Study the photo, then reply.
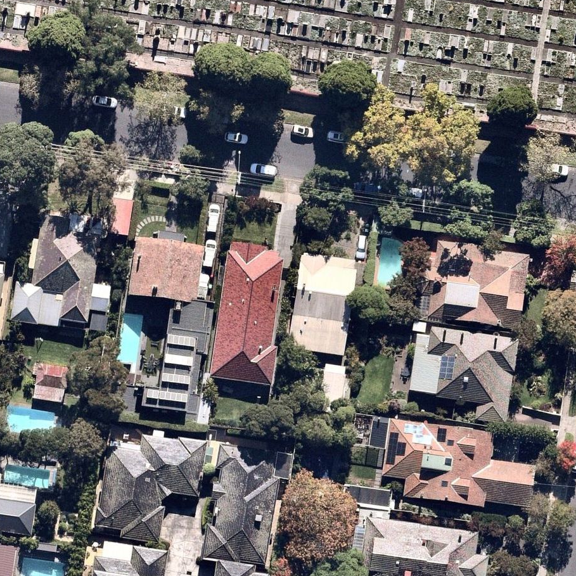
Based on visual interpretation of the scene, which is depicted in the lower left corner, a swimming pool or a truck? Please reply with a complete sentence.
There is a swimming pool in the lower left corner.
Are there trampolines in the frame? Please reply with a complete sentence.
No, no trampoline can be seen from above.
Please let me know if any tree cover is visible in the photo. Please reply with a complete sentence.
Yes, some tree cover is visible.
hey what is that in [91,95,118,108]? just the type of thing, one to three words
vehicle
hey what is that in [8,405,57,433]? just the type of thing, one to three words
swimming pool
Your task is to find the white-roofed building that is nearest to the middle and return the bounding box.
[289,257,357,357]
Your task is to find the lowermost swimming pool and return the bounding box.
[21,556,65,576]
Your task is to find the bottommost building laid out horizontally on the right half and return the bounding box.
[363,509,492,576]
